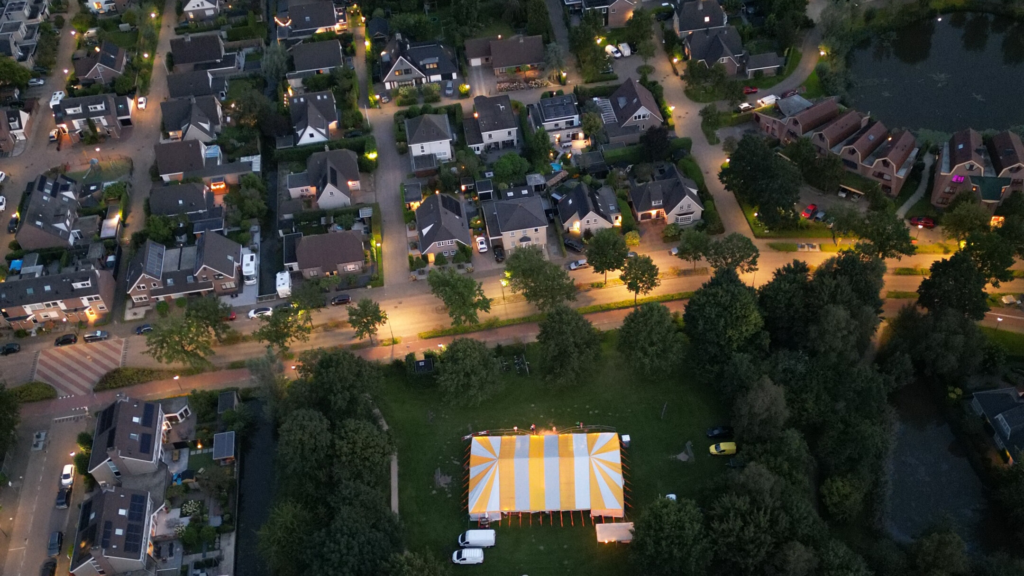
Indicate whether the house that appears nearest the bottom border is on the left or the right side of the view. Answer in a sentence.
The house that appears nearest the bottom border is on the left side of the image.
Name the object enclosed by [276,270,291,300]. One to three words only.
camper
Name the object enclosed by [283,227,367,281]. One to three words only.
house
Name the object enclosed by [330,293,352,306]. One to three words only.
vehicle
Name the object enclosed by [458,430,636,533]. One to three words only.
tent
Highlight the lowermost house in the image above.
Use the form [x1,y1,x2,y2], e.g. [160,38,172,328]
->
[68,484,169,576]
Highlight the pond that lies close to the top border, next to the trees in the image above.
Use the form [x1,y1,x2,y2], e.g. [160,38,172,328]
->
[847,9,1024,137]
